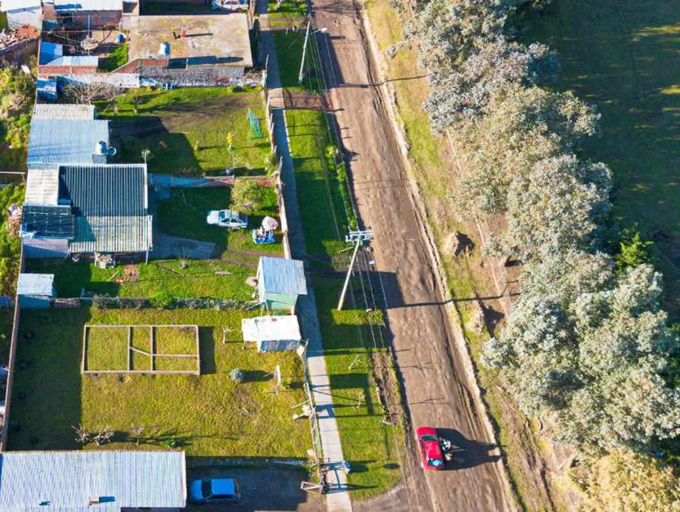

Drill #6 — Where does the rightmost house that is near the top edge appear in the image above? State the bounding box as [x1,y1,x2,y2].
[114,13,253,79]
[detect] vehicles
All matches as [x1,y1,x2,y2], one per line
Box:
[206,209,249,230]
[190,478,241,505]
[415,427,446,474]
[214,0,250,13]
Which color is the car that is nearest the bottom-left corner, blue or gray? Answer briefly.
blue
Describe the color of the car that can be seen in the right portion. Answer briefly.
red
